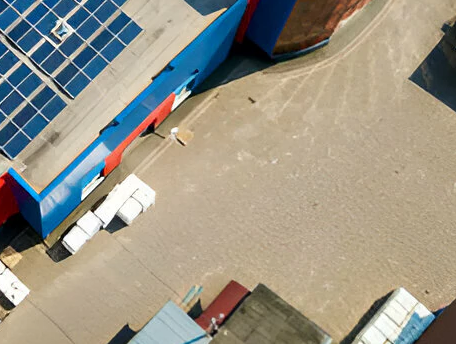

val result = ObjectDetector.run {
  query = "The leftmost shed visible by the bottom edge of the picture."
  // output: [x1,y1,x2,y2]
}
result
[129,300,211,344]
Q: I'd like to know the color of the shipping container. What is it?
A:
red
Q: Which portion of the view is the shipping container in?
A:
bottom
